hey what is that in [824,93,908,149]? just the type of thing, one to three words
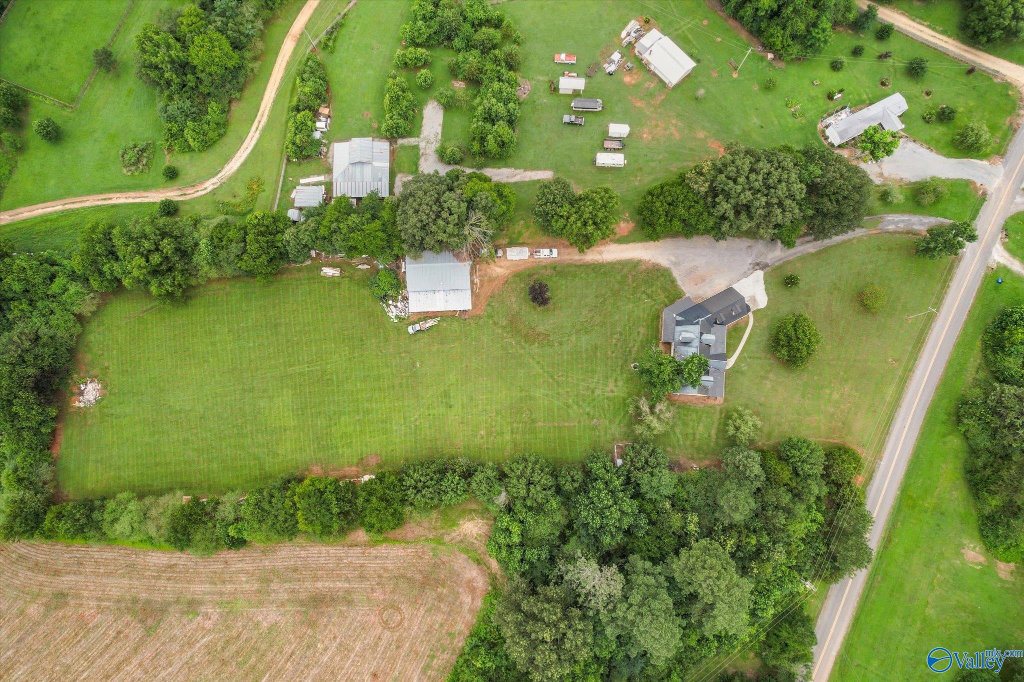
house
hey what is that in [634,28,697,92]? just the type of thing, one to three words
building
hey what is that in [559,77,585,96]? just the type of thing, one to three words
shed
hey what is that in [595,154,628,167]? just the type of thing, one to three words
vehicle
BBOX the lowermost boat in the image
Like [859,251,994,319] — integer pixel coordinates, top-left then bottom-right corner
[571,99,607,111]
